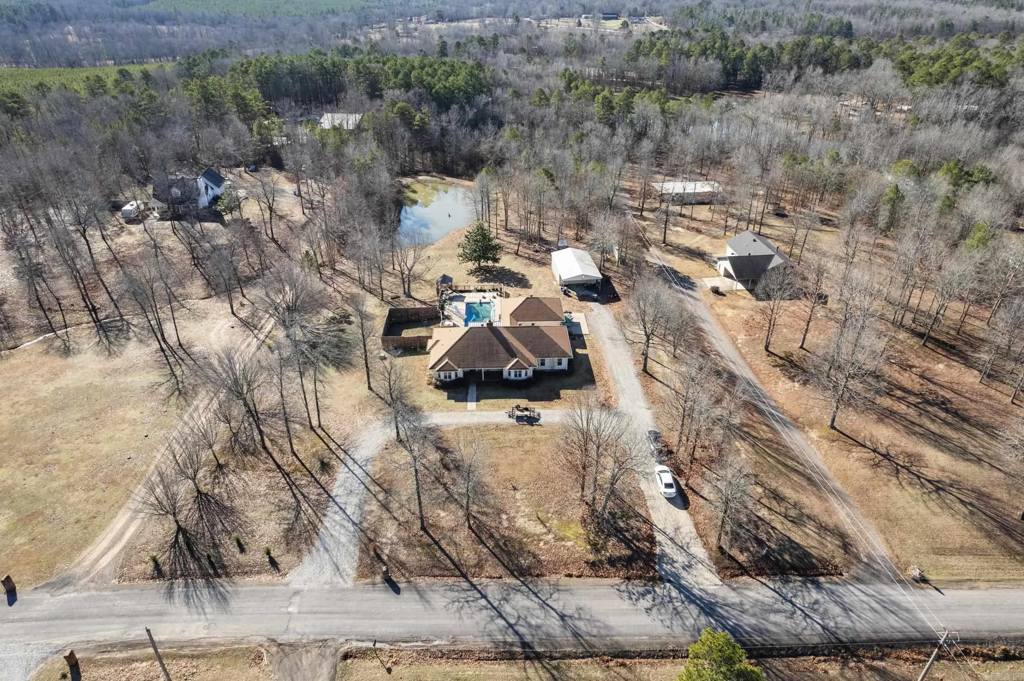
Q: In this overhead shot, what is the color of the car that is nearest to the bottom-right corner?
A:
white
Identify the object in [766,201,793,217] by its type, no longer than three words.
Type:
shed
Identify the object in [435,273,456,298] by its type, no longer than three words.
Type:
gazebo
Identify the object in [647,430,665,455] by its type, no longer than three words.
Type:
car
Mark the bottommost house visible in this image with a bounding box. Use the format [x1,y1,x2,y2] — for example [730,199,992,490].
[425,315,573,385]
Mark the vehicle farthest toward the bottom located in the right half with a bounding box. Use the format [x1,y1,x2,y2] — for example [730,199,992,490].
[656,465,676,494]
